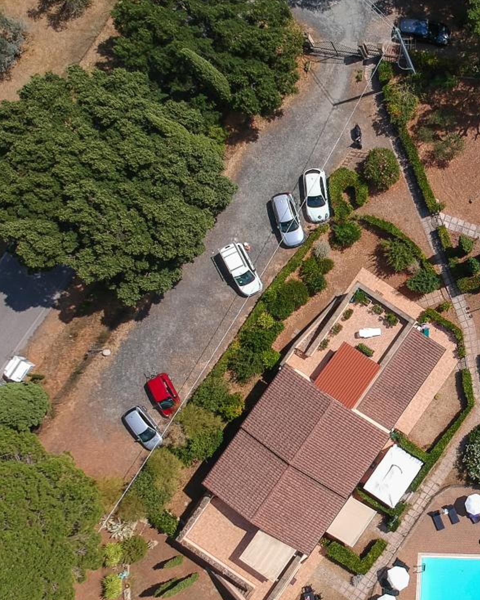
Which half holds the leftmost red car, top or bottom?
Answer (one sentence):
Seen from above, the leftmost red car lies in the bottom half of the view.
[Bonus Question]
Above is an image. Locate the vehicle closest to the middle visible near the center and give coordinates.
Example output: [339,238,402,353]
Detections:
[220,242,262,299]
